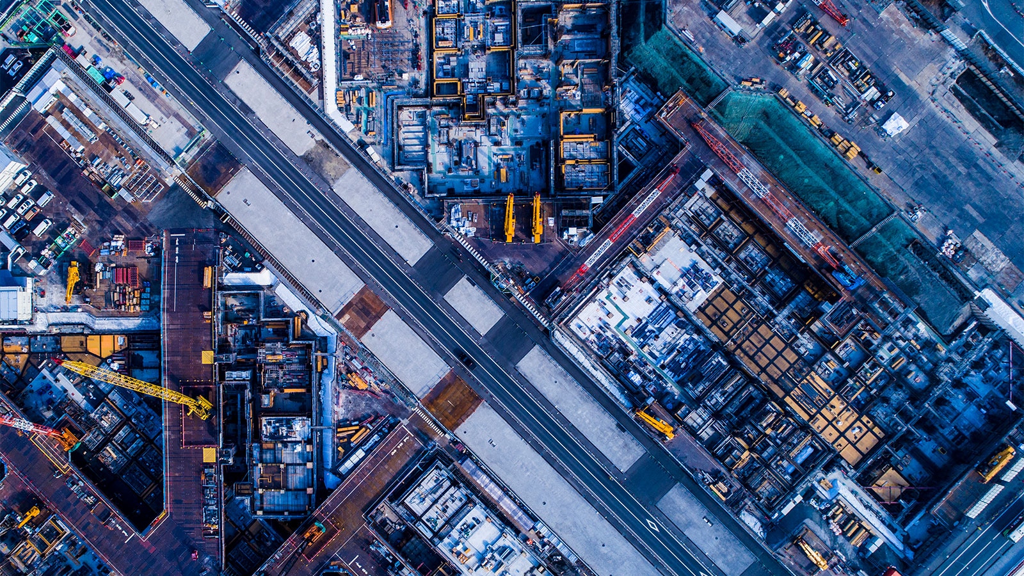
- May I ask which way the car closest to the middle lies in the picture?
on a diagonal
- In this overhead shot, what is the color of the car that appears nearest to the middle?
black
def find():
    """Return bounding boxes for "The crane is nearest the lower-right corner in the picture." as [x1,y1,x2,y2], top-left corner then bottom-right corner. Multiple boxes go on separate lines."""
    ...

[981,449,1019,482]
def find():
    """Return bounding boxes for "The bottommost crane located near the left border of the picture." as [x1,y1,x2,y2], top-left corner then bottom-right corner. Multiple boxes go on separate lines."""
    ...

[0,416,90,457]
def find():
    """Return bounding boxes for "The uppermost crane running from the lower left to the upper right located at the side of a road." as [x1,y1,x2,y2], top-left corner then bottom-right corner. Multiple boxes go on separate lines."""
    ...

[529,166,680,319]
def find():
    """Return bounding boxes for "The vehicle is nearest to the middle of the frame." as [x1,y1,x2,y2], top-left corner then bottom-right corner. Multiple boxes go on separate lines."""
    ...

[454,350,476,372]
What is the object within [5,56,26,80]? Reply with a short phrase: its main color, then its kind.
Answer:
blue car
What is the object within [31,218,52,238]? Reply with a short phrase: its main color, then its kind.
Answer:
white vehicle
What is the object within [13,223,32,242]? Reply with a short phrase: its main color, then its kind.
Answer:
black car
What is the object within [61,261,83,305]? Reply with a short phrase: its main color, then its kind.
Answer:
yellow crane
